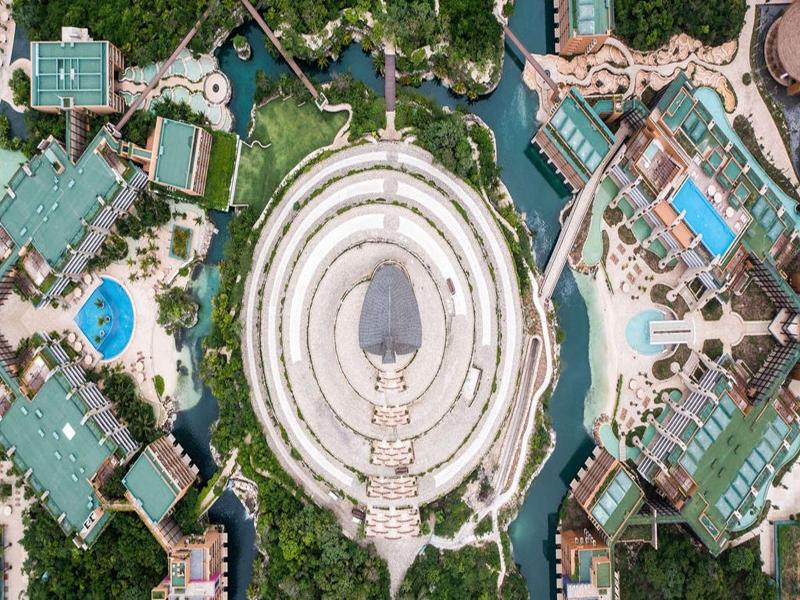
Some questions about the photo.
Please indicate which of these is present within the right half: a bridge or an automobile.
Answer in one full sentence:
What appears within the right half is a bridge.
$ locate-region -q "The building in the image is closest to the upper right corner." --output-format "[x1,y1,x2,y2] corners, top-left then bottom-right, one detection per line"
[757,3,800,101]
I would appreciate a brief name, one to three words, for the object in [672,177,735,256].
swimming pool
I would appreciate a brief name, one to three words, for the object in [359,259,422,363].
building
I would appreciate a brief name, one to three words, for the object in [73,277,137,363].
swimming pool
